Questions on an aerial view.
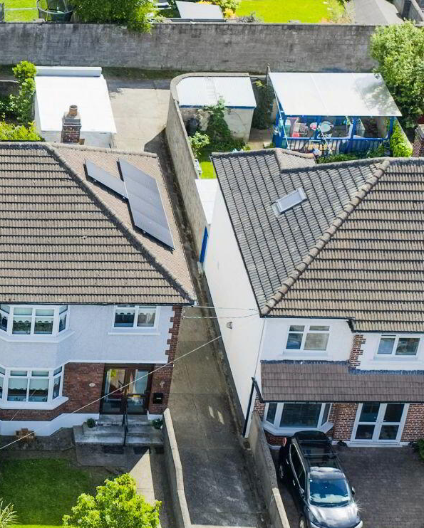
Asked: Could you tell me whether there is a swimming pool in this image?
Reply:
No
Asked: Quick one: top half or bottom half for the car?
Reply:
bottom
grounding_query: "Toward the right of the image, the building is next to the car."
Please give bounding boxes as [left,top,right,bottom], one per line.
[198,145,424,457]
